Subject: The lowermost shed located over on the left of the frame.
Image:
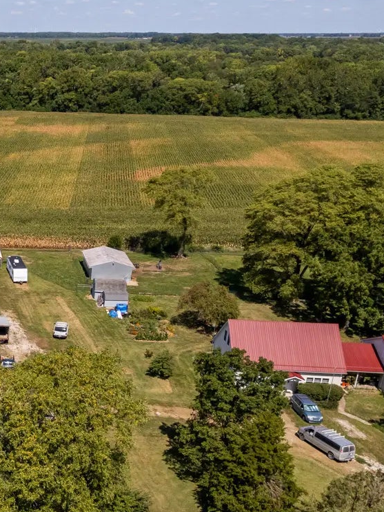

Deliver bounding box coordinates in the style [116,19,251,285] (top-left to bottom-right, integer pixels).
[88,278,132,307]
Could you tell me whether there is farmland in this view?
Yes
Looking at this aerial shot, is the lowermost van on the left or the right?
right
